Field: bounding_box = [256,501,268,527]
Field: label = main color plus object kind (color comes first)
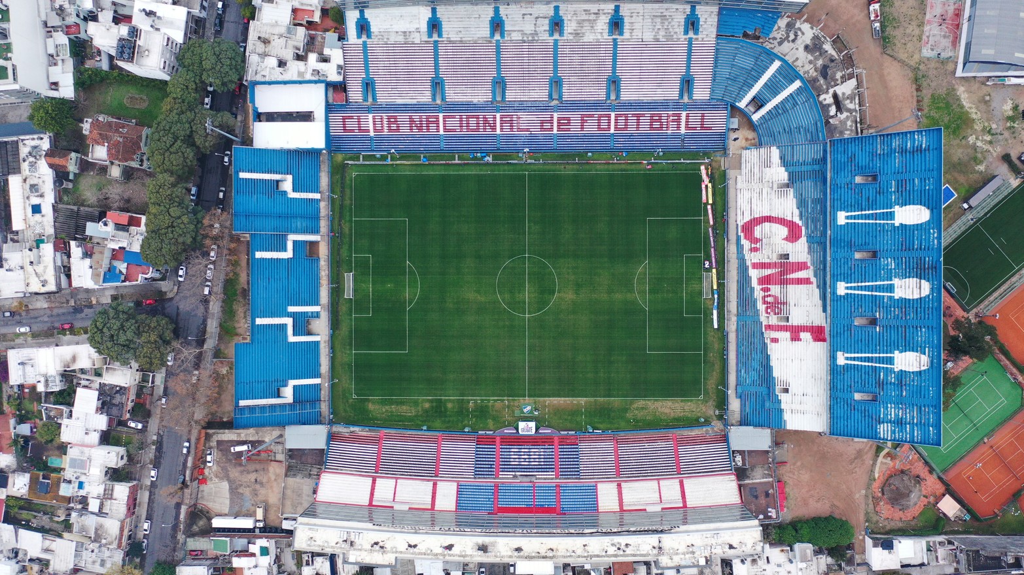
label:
white vehicle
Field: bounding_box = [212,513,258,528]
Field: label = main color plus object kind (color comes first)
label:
white vehicle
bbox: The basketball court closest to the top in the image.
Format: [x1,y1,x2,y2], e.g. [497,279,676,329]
[919,0,962,59]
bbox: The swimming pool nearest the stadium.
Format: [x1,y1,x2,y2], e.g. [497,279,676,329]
[944,182,959,208]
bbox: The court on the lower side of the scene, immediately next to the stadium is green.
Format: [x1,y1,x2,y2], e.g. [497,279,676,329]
[914,354,1023,473]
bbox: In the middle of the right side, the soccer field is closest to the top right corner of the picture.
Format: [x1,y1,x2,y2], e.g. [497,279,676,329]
[944,185,1024,311]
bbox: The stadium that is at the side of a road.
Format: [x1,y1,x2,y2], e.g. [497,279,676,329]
[232,0,944,571]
